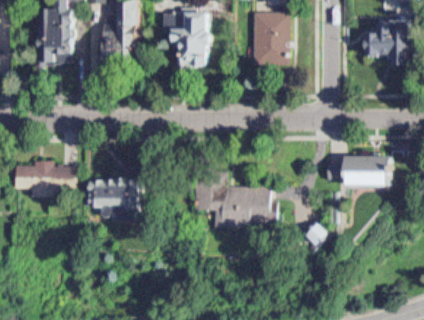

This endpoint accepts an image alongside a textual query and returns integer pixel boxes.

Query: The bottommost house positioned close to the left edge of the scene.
[14,160,78,198]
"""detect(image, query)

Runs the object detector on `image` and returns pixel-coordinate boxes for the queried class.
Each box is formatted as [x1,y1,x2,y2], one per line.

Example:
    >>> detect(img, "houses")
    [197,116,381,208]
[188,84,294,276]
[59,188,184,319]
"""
[113,0,141,55]
[44,0,78,64]
[382,0,411,12]
[14,160,78,198]
[340,156,394,188]
[254,12,293,66]
[196,172,280,226]
[87,176,142,218]
[163,7,214,68]
[362,18,412,66]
